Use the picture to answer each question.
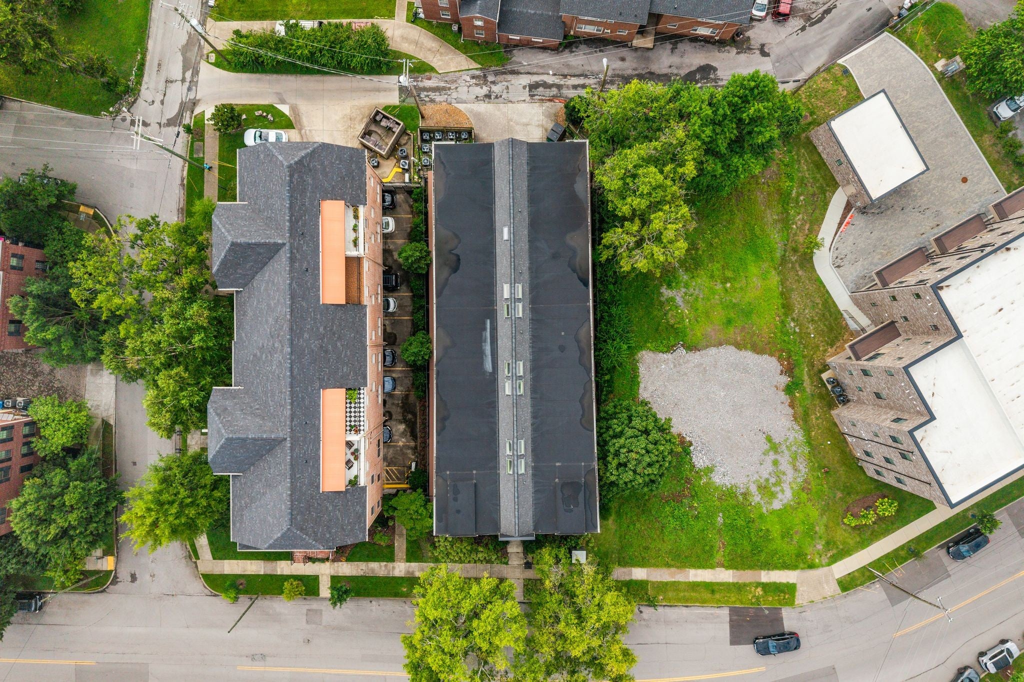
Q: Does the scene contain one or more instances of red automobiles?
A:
Yes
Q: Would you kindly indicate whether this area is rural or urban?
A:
urban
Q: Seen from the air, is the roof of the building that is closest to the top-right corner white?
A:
Yes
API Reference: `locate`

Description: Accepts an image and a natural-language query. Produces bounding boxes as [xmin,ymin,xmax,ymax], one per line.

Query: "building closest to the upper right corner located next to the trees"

[809,89,930,209]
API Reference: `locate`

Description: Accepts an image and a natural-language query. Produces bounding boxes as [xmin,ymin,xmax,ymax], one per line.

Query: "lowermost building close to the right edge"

[827,180,1024,509]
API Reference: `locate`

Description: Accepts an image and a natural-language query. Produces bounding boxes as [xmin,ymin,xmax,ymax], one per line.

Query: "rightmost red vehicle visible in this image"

[771,0,795,23]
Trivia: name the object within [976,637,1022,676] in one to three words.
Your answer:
car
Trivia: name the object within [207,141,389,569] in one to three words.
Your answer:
building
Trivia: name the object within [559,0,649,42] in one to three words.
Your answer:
house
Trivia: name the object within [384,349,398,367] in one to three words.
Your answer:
car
